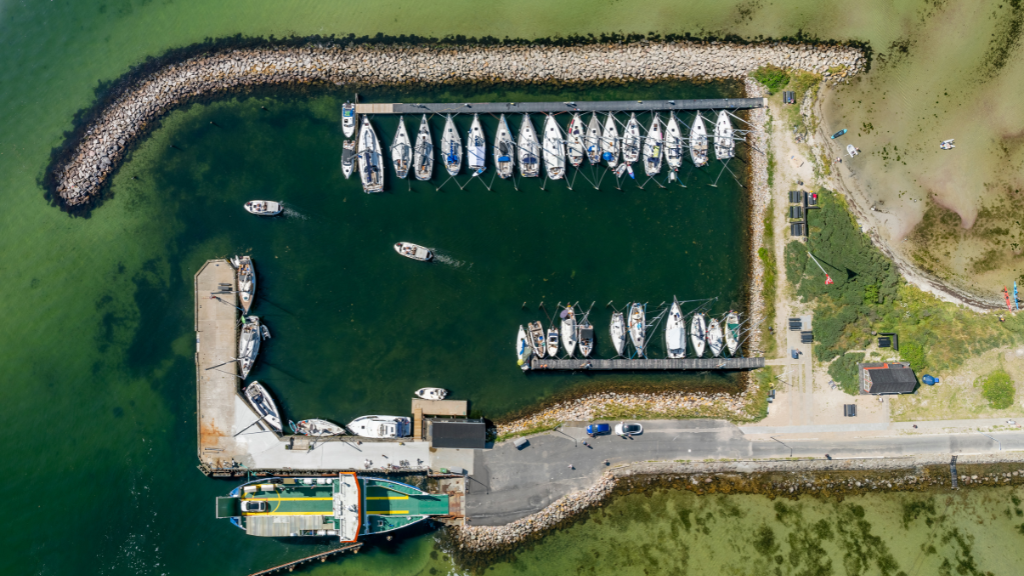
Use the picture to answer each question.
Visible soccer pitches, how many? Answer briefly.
0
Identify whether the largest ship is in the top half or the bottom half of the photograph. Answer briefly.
bottom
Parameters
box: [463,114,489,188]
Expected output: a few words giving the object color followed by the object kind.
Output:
white boat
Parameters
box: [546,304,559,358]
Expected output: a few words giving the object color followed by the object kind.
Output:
white boat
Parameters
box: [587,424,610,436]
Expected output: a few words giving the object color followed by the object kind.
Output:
blue vehicle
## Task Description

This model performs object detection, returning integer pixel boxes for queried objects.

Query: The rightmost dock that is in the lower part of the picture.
[530,356,763,370]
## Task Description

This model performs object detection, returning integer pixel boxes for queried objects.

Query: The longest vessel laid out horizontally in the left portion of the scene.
[215,467,450,544]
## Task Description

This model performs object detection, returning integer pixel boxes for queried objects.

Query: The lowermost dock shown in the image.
[249,543,362,576]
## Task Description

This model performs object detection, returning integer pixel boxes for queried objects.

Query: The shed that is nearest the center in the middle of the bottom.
[424,417,487,448]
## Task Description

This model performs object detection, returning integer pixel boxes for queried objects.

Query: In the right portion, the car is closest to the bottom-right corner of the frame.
[615,423,643,435]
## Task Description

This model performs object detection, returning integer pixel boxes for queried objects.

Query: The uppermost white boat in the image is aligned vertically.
[341,100,355,137]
